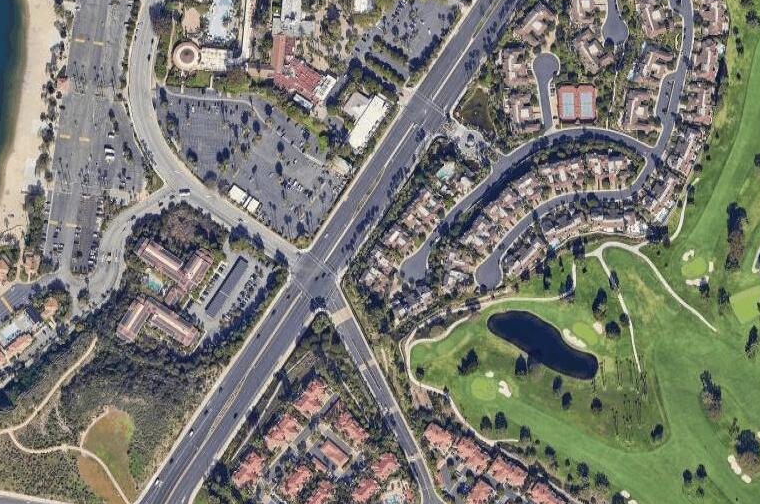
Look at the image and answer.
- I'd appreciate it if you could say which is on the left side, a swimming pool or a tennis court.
swimming pool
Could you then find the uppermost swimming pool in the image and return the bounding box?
[207,0,234,41]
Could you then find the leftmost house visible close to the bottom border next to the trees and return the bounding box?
[231,449,268,490]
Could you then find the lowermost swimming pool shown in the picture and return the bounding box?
[383,482,408,504]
